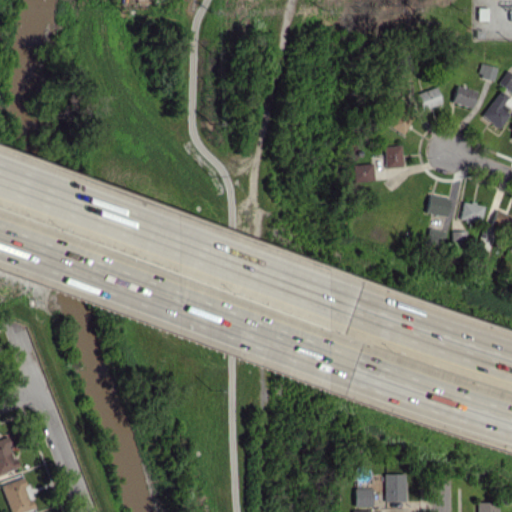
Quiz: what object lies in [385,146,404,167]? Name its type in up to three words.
house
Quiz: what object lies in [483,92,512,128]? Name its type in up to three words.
house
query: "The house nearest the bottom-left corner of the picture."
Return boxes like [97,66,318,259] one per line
[2,478,37,512]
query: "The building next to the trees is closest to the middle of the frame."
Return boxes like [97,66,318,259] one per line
[354,164,376,183]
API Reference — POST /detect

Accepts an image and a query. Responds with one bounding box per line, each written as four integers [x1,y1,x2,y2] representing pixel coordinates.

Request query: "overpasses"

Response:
[0,144,512,455]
